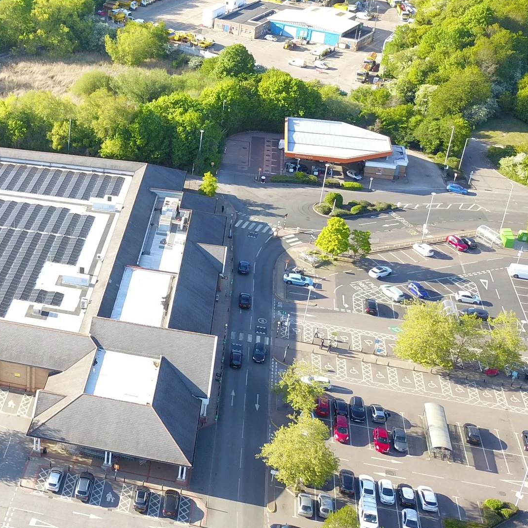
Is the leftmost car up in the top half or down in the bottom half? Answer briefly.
bottom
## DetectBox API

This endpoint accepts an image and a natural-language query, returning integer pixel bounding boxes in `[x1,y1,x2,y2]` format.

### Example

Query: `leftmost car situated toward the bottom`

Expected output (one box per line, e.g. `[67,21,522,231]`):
[44,466,65,494]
